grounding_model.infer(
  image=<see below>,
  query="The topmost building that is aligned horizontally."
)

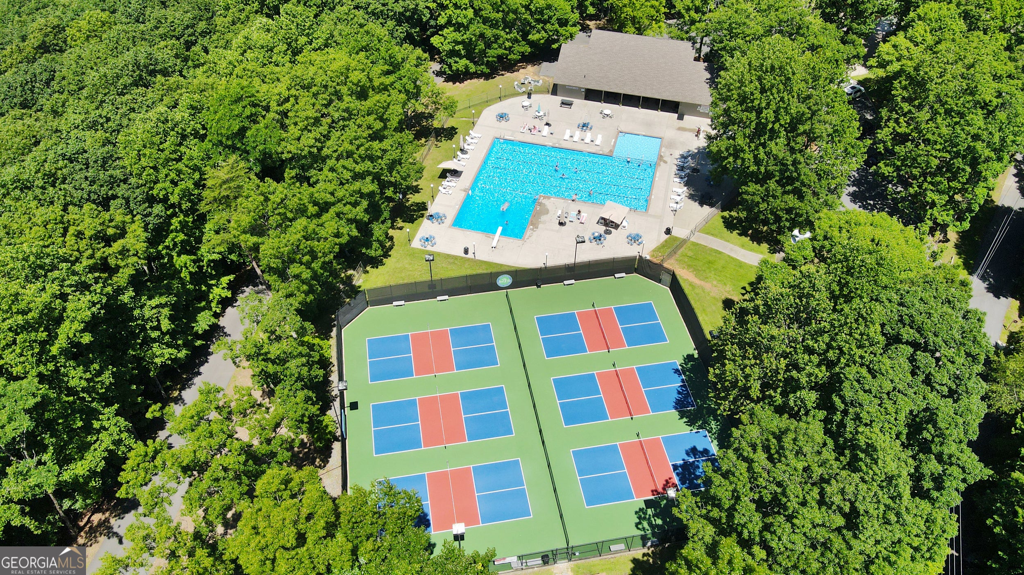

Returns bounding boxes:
[551,29,720,116]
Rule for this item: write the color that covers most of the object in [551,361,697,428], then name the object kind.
blue sports court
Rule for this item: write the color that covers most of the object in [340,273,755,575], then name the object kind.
green sports court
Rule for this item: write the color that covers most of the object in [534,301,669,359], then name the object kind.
blue sports court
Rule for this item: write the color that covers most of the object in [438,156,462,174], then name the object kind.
white umbrella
